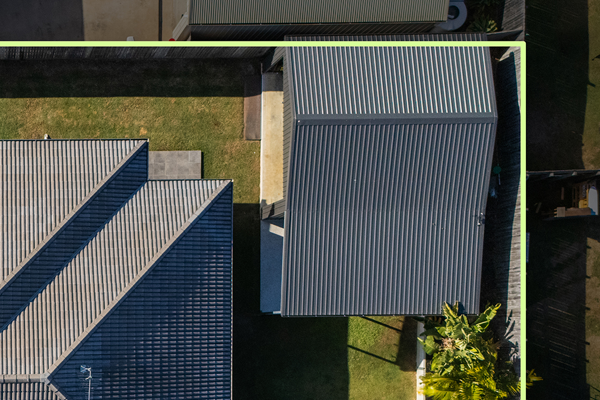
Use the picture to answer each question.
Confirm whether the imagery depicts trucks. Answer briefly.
No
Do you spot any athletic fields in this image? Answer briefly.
No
